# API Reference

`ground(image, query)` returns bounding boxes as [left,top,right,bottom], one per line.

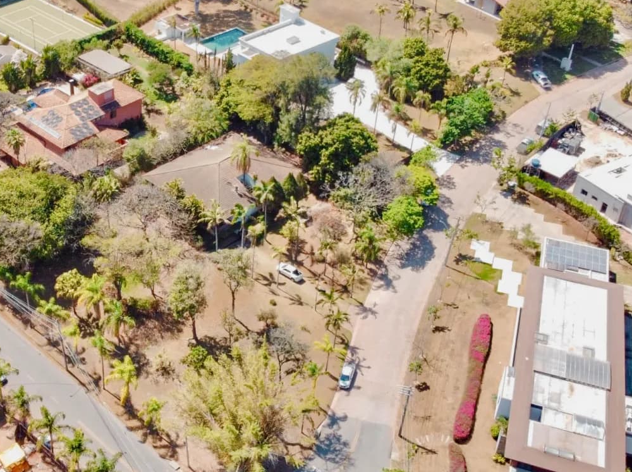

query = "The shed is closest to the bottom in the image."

[0,444,27,472]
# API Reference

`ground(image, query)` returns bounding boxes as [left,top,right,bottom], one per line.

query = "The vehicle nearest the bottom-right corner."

[338,361,356,389]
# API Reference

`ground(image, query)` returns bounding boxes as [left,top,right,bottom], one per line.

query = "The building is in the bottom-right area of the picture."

[490,238,632,472]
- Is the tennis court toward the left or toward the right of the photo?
left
